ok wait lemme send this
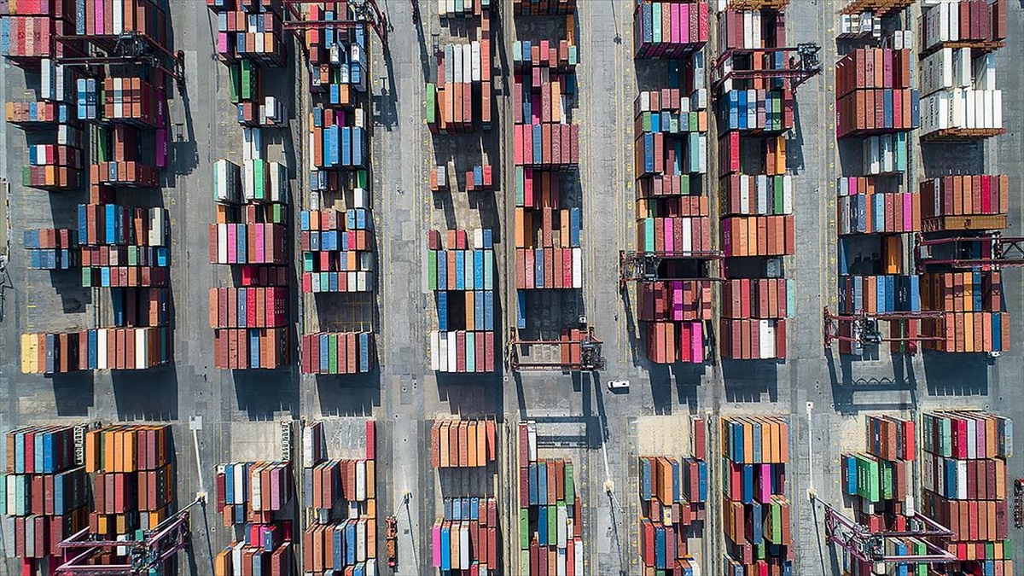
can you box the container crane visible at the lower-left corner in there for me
[59,510,189,574]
